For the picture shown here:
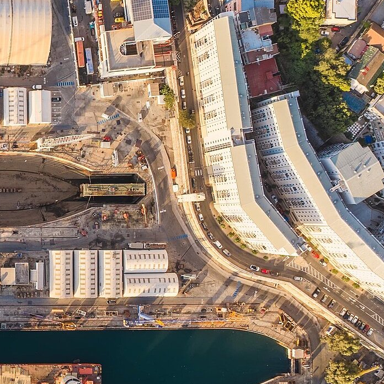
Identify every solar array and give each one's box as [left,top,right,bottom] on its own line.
[152,0,170,18]
[137,0,152,22]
